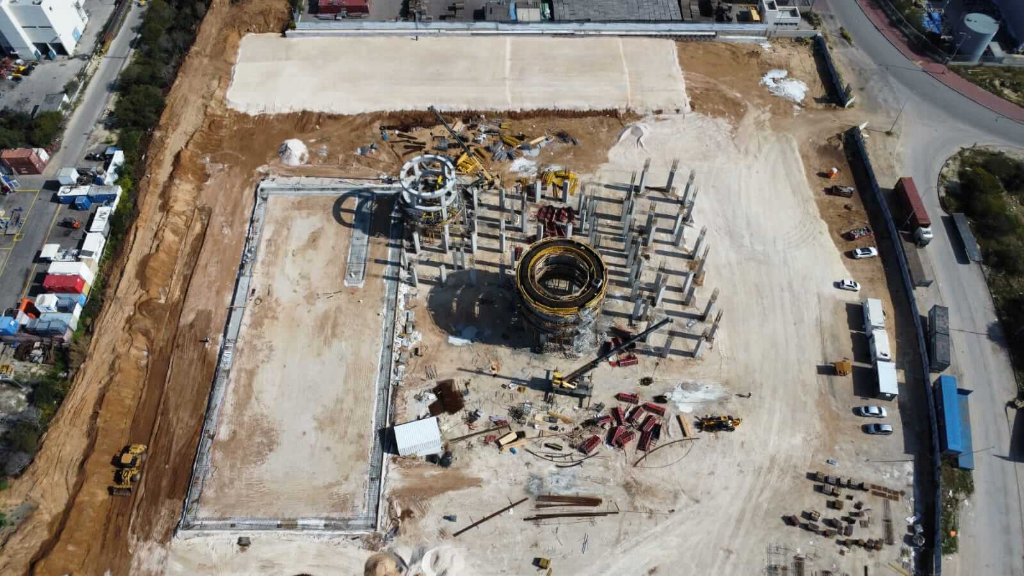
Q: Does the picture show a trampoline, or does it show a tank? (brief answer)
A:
tank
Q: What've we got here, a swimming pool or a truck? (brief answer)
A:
truck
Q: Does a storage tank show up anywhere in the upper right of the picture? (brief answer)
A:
Yes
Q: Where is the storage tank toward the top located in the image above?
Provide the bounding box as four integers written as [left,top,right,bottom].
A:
[939,9,1003,68]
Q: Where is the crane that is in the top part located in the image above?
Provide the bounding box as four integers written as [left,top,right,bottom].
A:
[424,105,519,203]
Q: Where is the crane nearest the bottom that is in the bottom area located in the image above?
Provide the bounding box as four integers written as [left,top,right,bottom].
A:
[542,319,677,407]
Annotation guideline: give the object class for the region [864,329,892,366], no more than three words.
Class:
building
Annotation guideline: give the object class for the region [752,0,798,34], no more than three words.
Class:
building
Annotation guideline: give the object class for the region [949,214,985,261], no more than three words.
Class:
trailer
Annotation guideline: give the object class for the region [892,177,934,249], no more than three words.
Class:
truck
